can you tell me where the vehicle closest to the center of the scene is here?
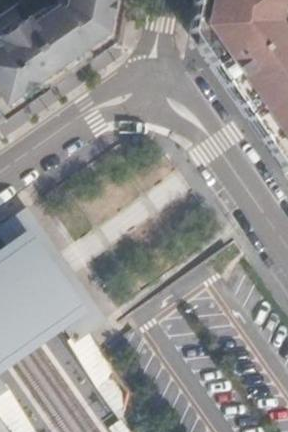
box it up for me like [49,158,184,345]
[200,169,217,189]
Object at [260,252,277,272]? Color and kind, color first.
gray car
